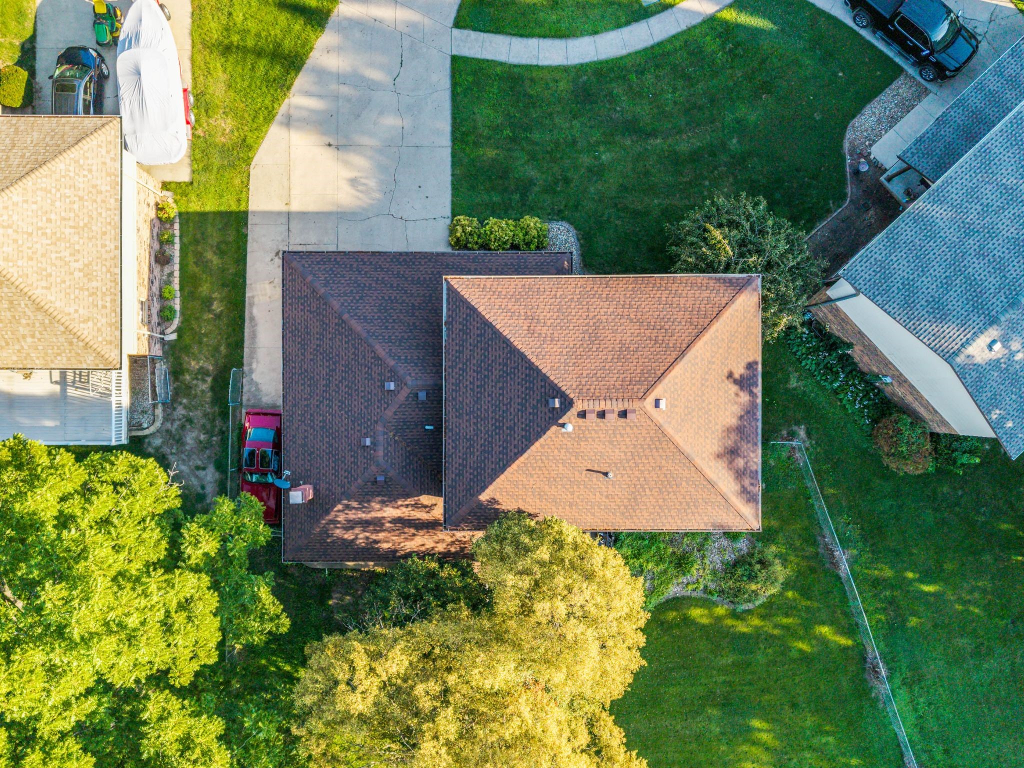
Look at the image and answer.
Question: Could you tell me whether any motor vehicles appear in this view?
Yes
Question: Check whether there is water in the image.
No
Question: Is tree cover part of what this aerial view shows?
Yes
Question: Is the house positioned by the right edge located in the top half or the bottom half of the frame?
top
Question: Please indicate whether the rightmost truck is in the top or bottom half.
top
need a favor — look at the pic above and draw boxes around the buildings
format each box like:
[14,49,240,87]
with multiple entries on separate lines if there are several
[806,38,1024,460]
[0,116,167,368]
[282,250,761,562]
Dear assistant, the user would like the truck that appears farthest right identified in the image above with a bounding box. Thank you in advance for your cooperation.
[840,0,976,87]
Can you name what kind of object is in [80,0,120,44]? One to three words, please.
work vehicle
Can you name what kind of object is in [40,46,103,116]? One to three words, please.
car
